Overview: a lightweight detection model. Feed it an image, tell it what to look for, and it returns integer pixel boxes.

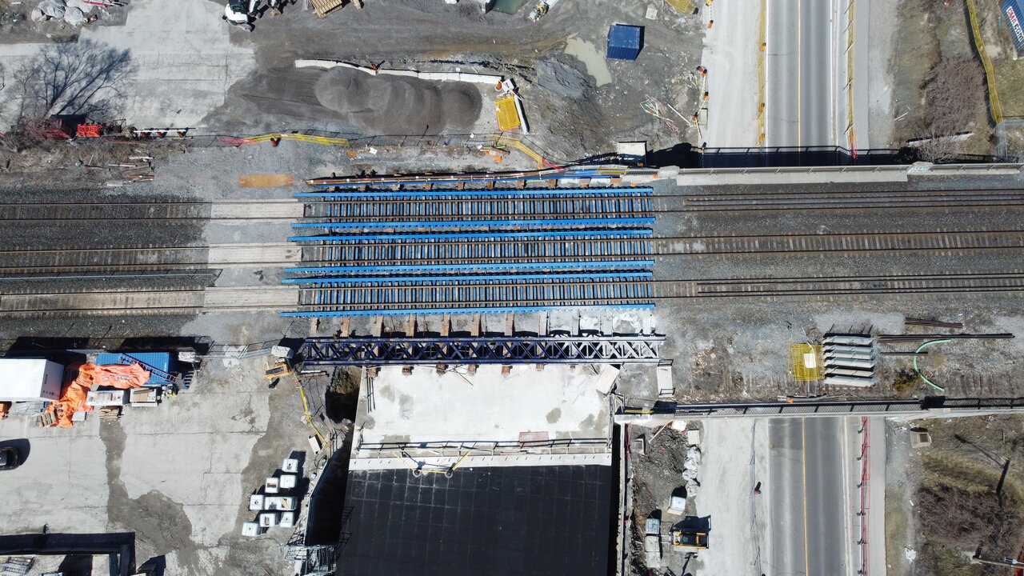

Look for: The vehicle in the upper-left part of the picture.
[219,0,261,32]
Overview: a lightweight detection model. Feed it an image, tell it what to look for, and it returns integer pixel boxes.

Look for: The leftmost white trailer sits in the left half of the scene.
[0,360,60,405]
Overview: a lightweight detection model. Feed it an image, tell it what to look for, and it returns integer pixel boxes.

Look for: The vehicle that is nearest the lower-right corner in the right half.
[672,523,716,548]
